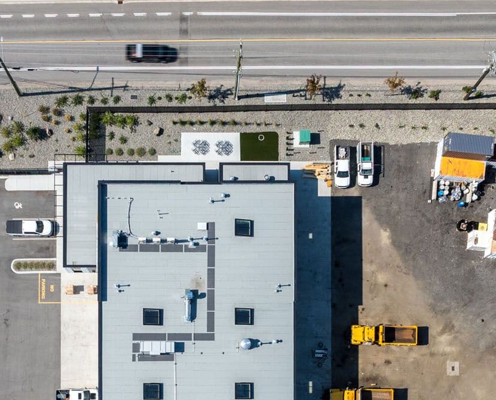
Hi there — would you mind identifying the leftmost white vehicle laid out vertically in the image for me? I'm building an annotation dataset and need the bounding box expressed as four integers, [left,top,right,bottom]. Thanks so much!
[335,142,354,189]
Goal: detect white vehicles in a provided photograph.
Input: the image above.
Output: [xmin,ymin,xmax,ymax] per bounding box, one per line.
[335,142,354,189]
[55,387,98,400]
[6,217,51,236]
[358,138,377,187]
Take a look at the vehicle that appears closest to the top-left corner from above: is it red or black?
black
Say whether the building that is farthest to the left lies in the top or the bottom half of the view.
bottom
